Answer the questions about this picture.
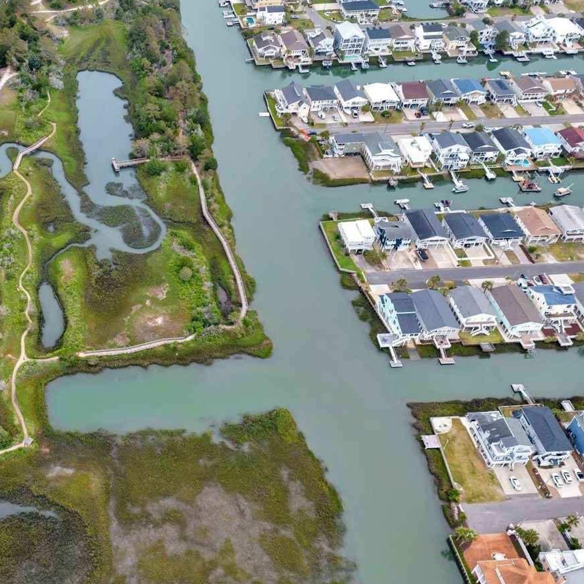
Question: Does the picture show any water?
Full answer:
Yes, some water is visible.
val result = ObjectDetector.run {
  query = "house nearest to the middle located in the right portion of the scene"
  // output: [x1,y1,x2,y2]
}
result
[336,222,376,252]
